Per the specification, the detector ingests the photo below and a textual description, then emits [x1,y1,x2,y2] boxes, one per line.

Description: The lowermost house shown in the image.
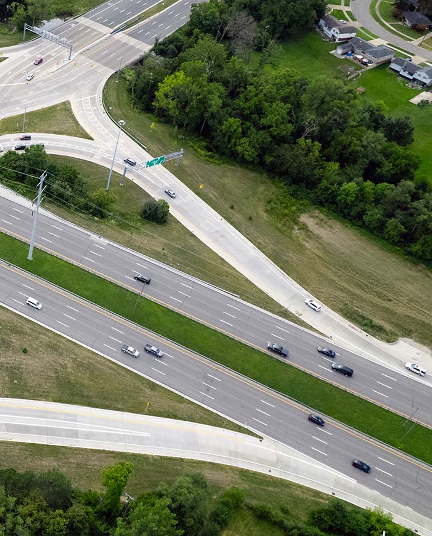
[391,55,432,89]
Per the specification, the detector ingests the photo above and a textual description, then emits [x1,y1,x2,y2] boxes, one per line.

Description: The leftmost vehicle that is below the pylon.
[25,297,43,309]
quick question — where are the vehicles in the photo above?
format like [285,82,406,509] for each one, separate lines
[120,343,141,358]
[331,362,354,378]
[19,135,31,141]
[25,74,34,80]
[317,347,336,359]
[25,297,43,309]
[14,145,27,151]
[306,412,326,426]
[266,343,288,357]
[34,58,43,64]
[305,300,321,311]
[143,343,164,358]
[405,363,425,374]
[124,158,136,165]
[350,458,371,473]
[164,189,176,198]
[133,272,152,285]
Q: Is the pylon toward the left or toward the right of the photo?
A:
left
